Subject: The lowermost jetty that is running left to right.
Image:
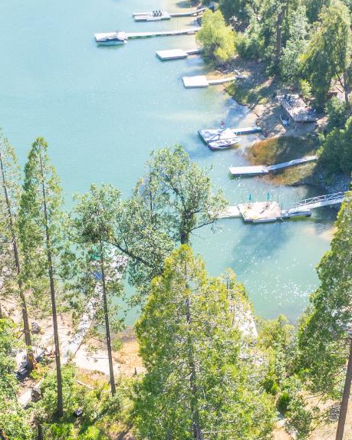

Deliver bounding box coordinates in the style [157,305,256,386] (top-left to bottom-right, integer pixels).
[205,184,352,223]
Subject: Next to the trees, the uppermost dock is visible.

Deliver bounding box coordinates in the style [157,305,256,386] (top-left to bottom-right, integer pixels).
[133,8,207,22]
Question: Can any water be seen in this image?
Yes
